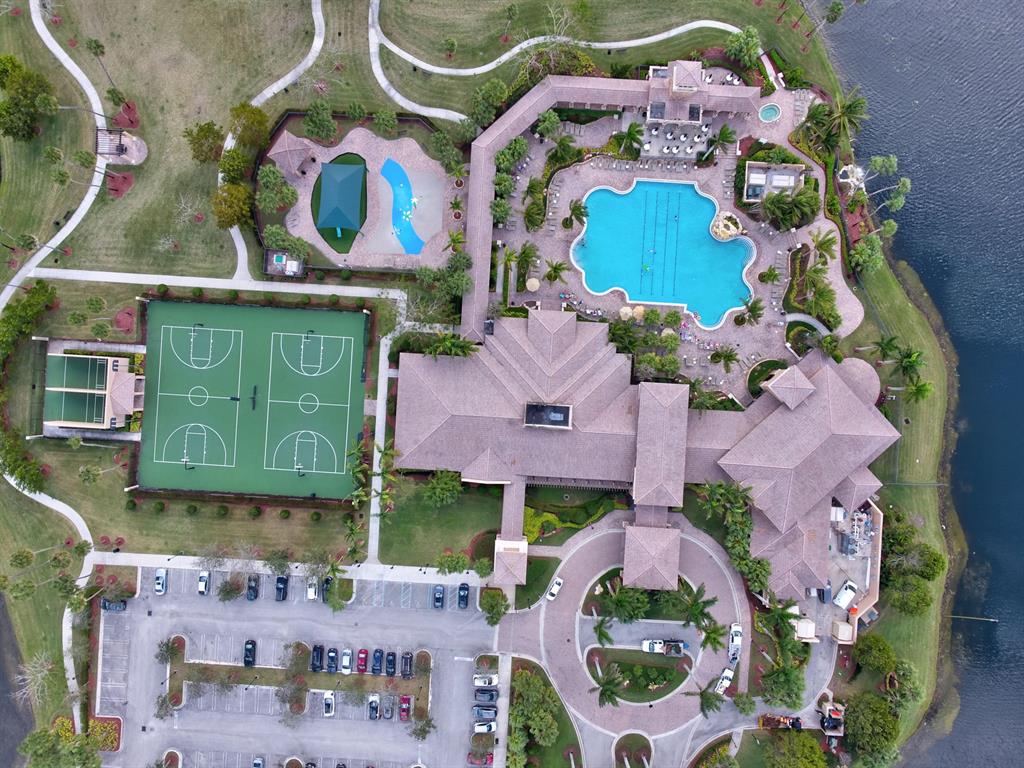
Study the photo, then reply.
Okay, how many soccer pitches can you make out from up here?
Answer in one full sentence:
There are no soccer pitches in this view.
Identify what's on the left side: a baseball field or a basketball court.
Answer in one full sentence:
Visible on the left side is a basketball court.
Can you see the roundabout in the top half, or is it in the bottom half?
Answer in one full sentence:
The roundabout is in the bottom half of the image.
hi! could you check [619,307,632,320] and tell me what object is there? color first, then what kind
white umbrella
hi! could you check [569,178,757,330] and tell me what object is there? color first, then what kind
blue swimming pool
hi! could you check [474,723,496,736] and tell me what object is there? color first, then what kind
white vehicle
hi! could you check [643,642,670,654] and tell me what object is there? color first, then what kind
white vehicle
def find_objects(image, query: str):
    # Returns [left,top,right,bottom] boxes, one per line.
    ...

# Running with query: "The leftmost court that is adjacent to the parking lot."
[139,301,256,495]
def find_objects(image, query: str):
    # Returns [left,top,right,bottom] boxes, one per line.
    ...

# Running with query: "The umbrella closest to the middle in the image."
[526,278,540,292]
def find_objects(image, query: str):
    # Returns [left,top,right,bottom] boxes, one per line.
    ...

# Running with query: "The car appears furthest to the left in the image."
[100,600,126,613]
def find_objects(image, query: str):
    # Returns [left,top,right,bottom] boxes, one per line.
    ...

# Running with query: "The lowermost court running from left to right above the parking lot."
[43,391,106,424]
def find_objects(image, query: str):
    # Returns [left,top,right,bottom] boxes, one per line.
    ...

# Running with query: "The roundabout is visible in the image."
[497,533,793,768]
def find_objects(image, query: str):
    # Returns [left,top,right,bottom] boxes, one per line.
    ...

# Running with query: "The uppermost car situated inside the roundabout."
[547,576,564,603]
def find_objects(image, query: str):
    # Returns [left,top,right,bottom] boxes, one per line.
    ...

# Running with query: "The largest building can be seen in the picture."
[395,310,901,601]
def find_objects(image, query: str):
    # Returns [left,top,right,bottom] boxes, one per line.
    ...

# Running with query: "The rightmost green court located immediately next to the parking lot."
[247,307,365,501]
